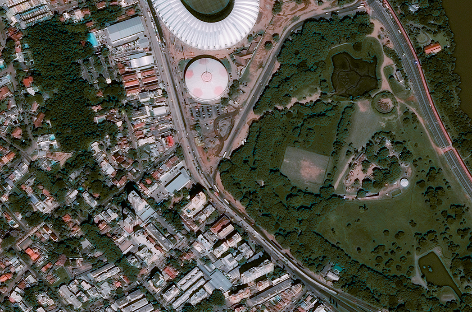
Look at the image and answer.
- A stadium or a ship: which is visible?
stadium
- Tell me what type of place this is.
residential area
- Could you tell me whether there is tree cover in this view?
Yes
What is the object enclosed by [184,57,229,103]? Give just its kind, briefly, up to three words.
stadium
